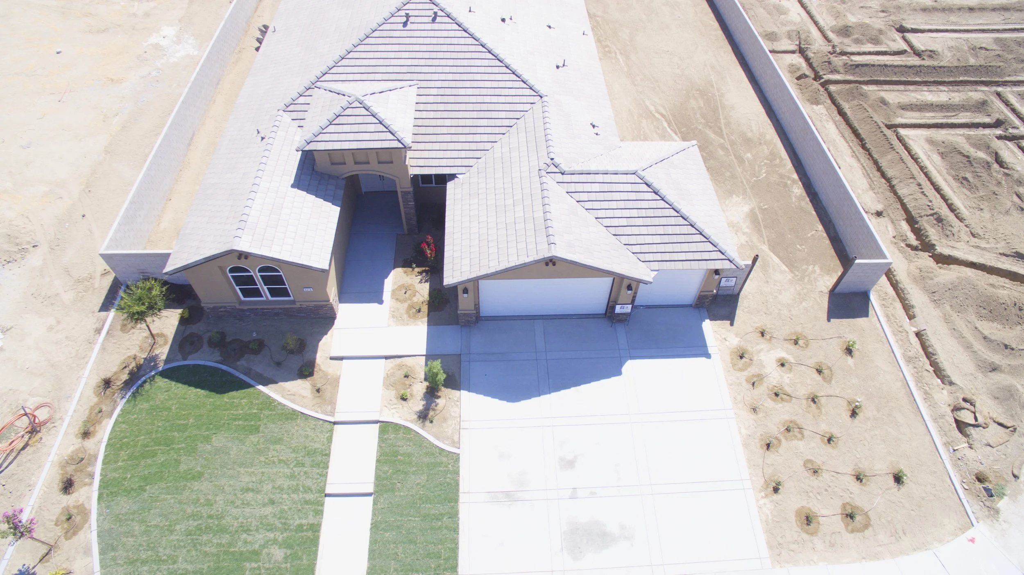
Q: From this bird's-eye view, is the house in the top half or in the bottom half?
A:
top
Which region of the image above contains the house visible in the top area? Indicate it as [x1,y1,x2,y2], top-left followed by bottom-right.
[163,0,747,327]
